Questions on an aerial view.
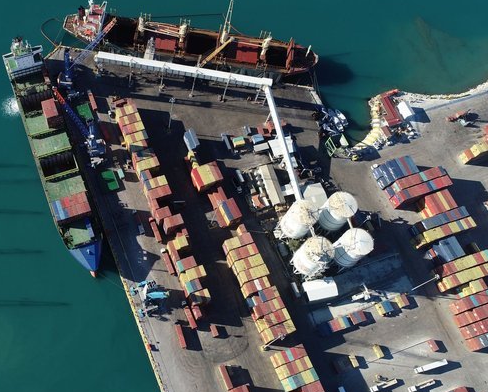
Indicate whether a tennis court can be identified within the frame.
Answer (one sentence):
No, the picture doesn't show any tennis court.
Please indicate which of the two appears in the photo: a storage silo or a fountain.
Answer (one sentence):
The one in the frame is a storage silo.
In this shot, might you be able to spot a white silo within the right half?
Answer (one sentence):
Yes, looking within the right half, one can make out a white silo.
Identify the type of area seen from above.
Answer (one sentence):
This looks like a port.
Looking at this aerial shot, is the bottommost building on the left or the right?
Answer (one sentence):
The bottommost building sits on the right side.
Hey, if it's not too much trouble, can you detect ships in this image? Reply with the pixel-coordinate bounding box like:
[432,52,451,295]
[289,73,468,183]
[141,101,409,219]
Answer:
[61,0,318,81]
[7,44,104,282]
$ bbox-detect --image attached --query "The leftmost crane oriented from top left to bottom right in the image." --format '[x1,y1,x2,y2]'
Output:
[32,85,115,164]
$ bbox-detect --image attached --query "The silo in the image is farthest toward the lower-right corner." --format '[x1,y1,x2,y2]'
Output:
[330,229,373,272]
